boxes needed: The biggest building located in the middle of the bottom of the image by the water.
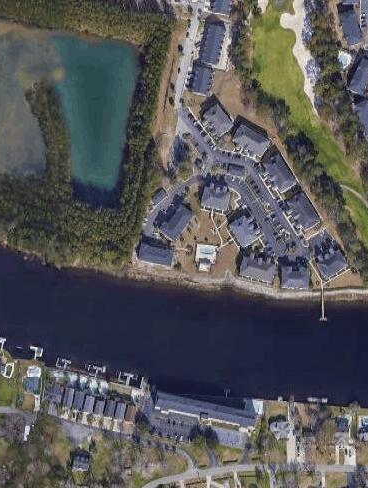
[154,391,258,425]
